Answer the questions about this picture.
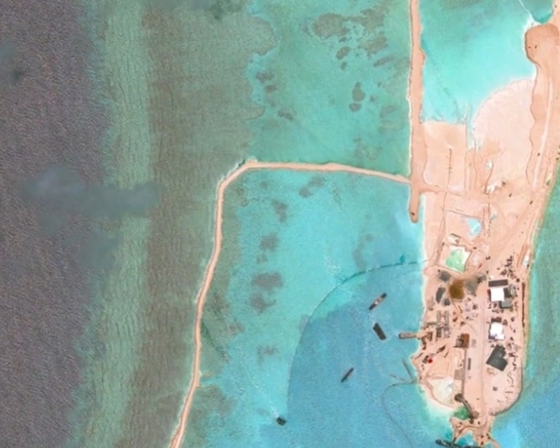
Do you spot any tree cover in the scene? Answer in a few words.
No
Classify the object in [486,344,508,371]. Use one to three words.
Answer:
shed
